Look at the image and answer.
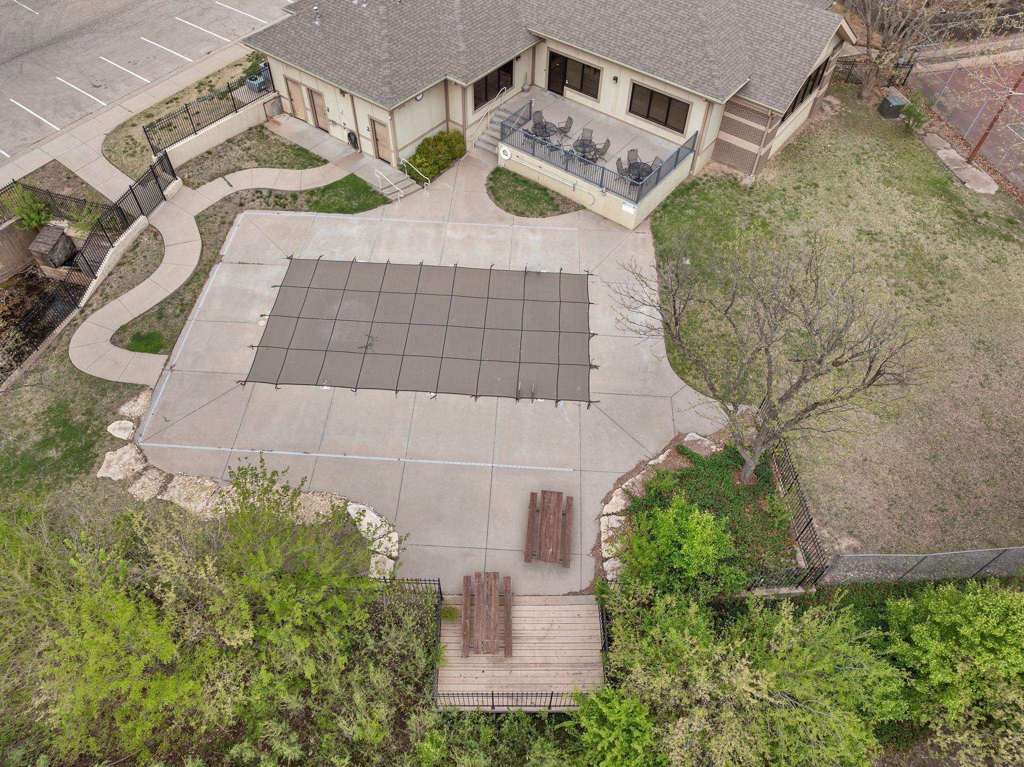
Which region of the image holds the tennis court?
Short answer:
top right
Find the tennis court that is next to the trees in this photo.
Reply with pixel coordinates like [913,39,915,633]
[914,46,1024,207]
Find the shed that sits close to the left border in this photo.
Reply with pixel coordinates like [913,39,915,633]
[18,228,70,269]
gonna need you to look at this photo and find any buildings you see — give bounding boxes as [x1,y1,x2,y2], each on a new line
[18,228,70,269]
[247,0,875,179]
